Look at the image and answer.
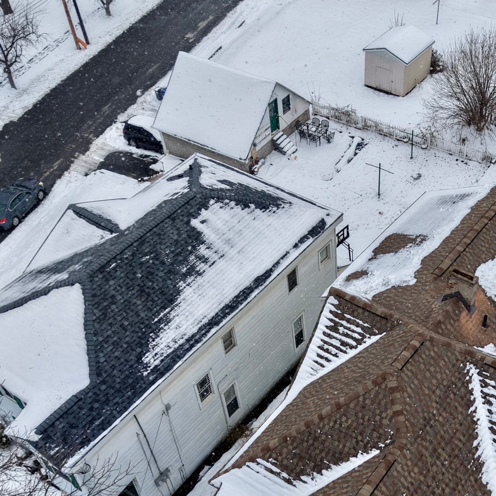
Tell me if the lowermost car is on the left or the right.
left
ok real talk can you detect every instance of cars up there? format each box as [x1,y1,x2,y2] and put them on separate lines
[0,174,46,229]
[125,112,184,156]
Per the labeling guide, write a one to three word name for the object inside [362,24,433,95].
shed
